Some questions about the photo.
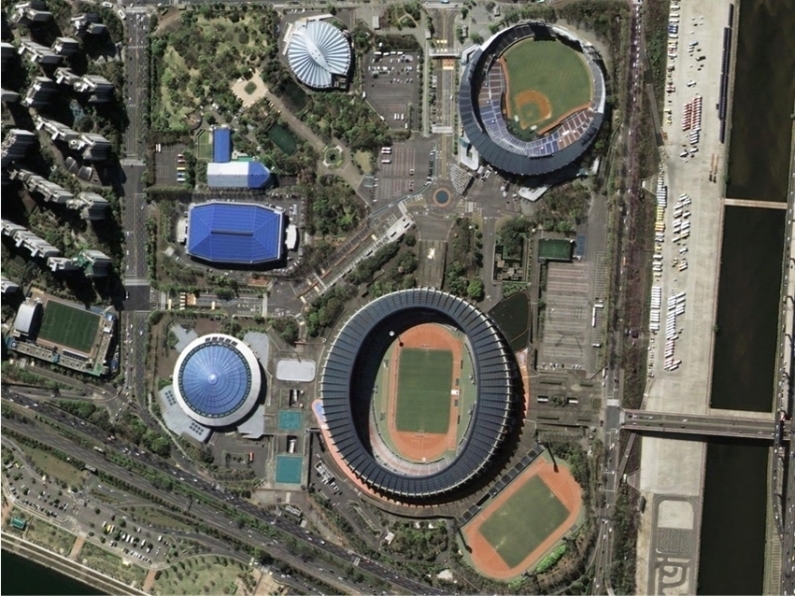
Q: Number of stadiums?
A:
two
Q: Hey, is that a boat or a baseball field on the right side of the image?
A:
baseball field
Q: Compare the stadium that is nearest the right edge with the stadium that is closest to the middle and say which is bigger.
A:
the stadium that is closest to the middle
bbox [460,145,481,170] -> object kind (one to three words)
building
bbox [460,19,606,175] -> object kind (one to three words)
stadium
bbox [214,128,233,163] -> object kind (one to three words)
building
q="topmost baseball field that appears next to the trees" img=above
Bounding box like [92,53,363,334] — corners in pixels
[501,37,593,143]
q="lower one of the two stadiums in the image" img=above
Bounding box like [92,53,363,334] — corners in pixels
[319,283,521,503]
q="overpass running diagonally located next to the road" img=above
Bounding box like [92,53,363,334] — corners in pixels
[319,219,415,296]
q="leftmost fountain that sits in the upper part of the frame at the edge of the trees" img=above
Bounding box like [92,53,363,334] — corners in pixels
[321,145,342,168]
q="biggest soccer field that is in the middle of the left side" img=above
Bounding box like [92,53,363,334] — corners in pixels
[30,290,106,363]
